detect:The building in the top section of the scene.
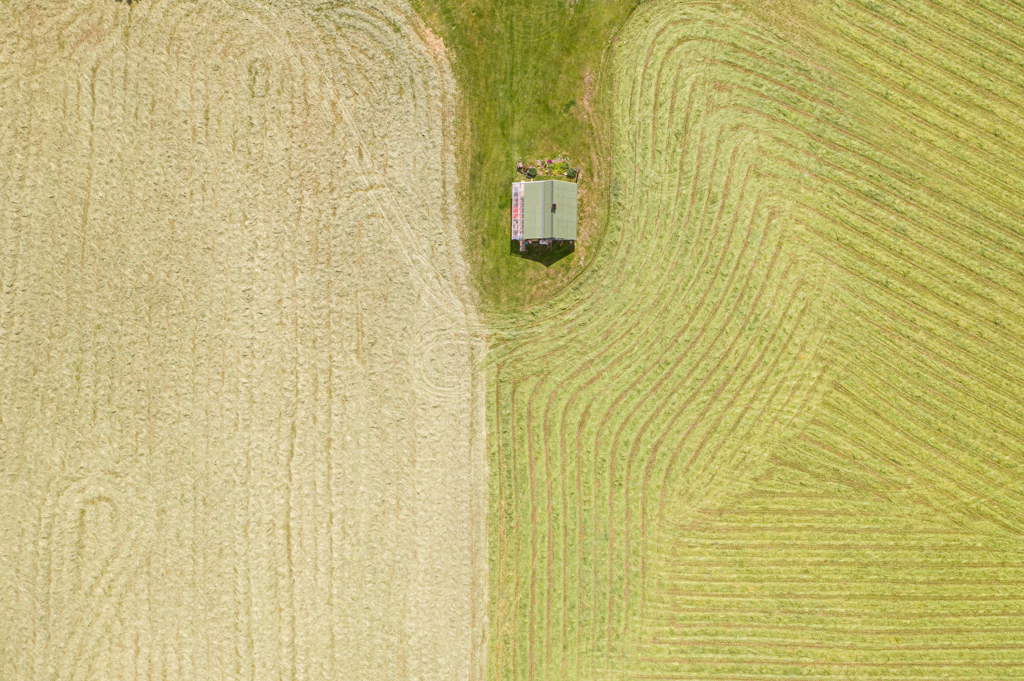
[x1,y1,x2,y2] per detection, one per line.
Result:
[512,179,577,241]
